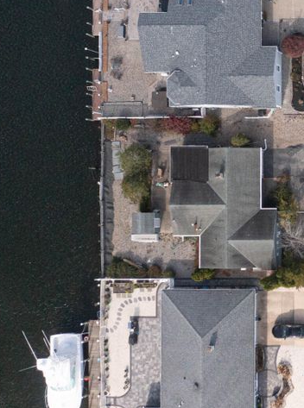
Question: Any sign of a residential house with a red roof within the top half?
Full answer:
No, the scene shows no residential house with a red roof within the top half.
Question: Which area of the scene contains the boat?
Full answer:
The boat is located in the bottom left region of the scene.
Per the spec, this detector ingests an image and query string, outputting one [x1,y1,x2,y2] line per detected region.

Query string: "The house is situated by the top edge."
[138,0,283,109]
